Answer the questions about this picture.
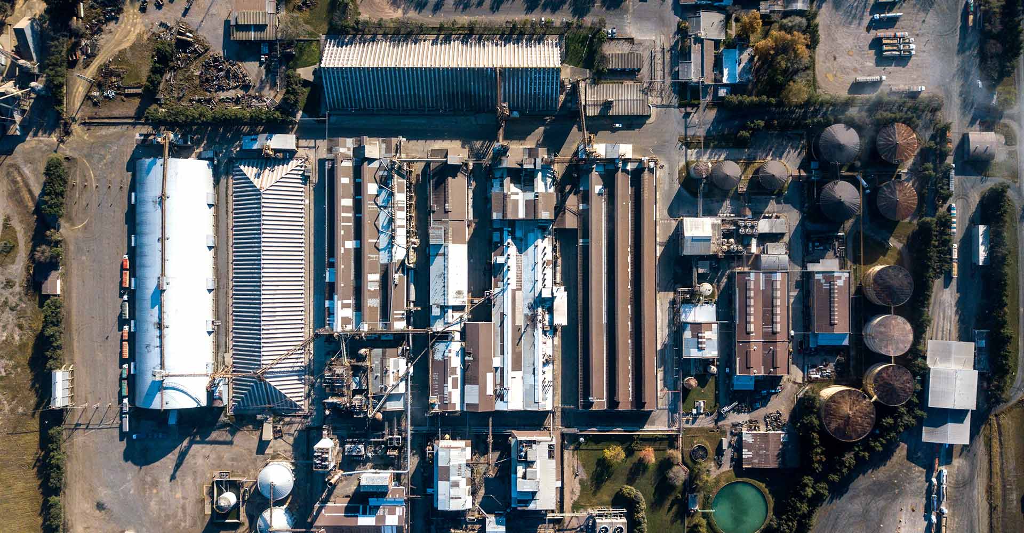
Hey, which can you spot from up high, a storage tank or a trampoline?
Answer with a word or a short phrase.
storage tank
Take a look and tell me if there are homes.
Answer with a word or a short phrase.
Yes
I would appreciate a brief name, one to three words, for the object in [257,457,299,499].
storage tank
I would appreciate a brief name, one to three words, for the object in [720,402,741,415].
vehicle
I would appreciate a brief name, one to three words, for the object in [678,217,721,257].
house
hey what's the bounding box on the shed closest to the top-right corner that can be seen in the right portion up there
[960,133,997,162]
